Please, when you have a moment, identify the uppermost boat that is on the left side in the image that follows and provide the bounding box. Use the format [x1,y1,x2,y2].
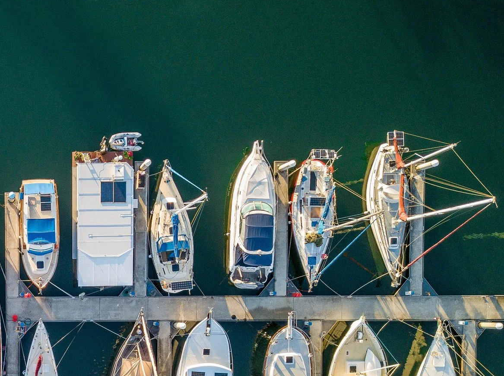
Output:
[109,132,142,152]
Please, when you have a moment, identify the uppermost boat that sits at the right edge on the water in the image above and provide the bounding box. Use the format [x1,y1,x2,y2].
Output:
[367,131,501,288]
